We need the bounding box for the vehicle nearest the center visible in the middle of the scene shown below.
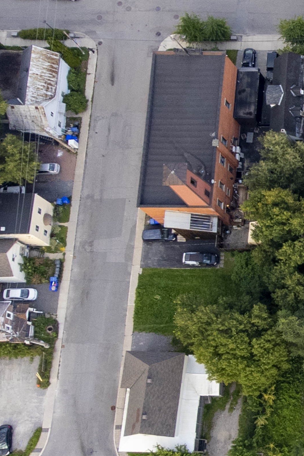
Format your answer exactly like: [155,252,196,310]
[142,229,177,243]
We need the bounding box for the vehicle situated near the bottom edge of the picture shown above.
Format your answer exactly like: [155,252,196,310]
[0,422,16,456]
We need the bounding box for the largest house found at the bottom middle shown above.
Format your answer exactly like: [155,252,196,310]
[118,351,224,454]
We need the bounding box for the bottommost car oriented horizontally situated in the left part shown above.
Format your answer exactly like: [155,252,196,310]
[3,286,38,302]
